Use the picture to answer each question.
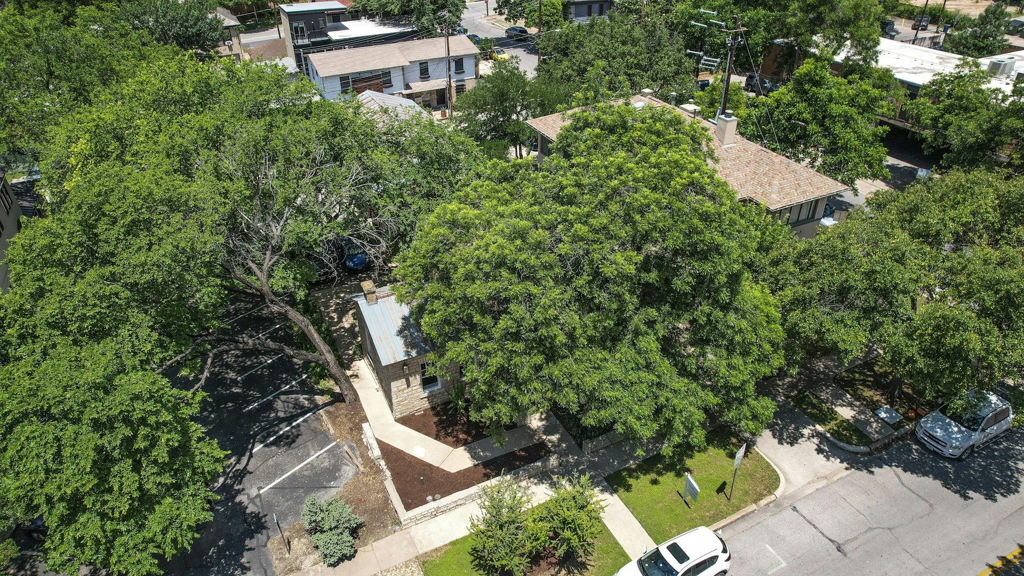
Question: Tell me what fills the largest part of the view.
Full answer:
The bulk of the photo consists of trees.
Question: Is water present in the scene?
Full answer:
No, water can't be seen anywhere here.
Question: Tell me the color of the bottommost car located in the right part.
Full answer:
From above, the bottommost car located in the right part appears white.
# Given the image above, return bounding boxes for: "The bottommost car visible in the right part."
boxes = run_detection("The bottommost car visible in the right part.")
[622,529,738,576]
